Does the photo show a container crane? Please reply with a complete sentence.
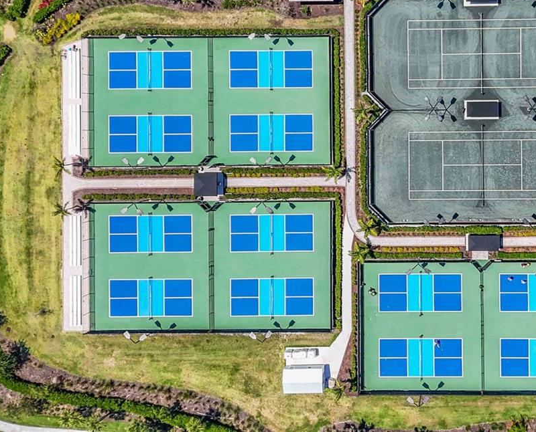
No, the frame has no container crane in it.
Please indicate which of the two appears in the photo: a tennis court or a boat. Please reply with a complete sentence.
Of the two, only a tennis court appears.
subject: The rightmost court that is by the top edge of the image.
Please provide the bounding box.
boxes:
[371,0,536,110]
